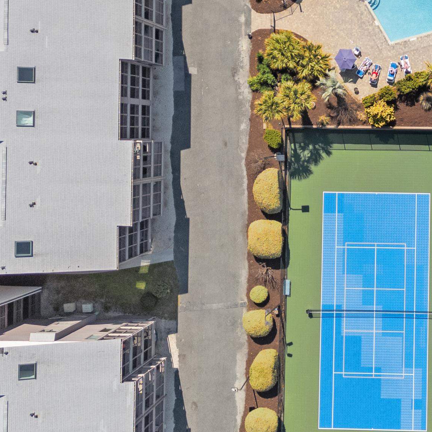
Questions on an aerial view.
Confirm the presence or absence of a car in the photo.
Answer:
No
